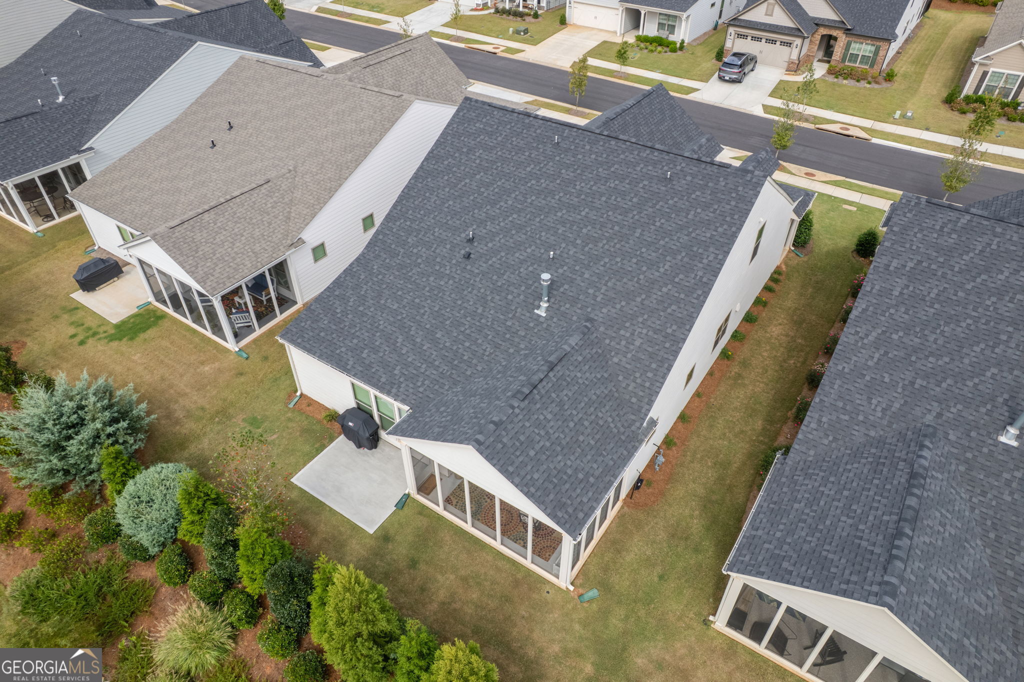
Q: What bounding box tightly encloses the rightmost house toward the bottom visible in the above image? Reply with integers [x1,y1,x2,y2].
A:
[701,183,1024,682]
